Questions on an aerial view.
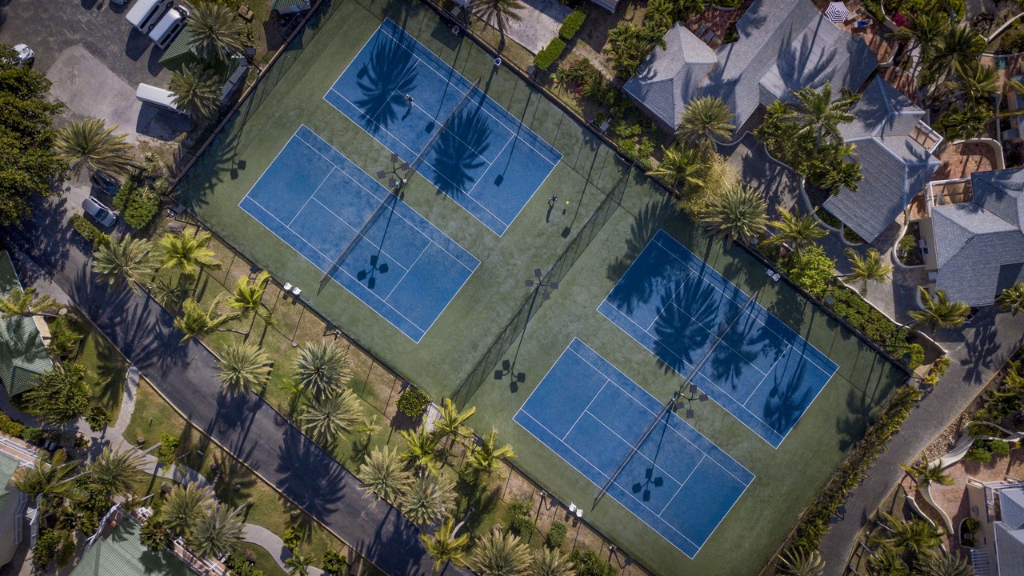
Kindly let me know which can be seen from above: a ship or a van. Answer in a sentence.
The image shows a van.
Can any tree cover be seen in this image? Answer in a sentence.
Yes, tree cover can be seen from above here.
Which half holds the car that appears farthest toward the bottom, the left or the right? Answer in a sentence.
It is on the left.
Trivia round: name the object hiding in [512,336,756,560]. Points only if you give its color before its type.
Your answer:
blue tennis court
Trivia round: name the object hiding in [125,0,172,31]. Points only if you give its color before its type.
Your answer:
white van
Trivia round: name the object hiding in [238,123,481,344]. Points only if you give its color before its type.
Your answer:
blue tennis court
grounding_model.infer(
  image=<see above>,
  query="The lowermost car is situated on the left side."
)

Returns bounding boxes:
[81,194,124,230]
